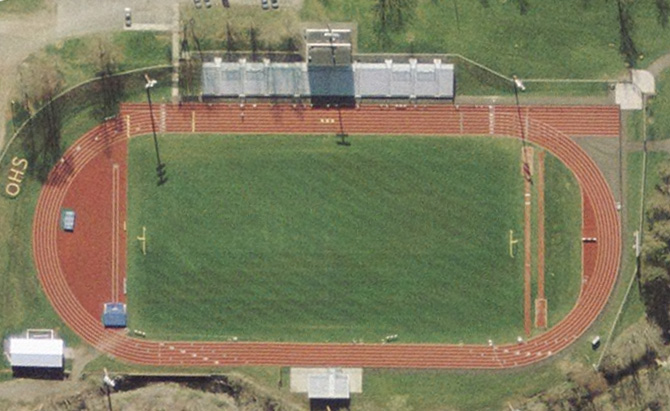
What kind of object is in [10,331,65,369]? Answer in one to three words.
building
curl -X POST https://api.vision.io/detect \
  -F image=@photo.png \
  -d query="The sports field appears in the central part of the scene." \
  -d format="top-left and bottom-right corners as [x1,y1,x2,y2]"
[127,135,581,344]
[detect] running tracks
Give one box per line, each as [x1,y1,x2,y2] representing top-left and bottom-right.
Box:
[33,103,620,367]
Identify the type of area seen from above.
sports ground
